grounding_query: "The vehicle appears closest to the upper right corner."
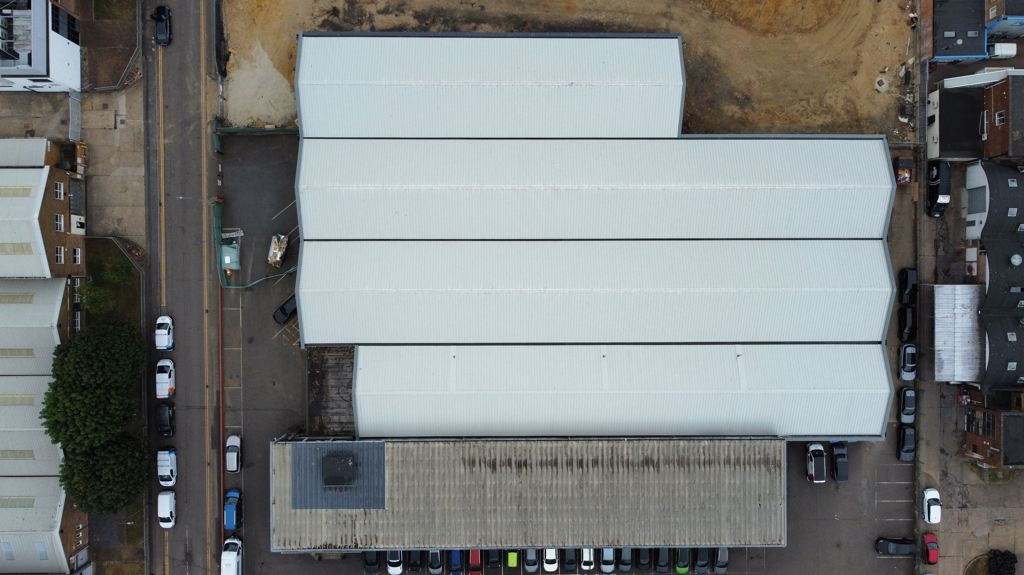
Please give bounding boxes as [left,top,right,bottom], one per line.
[980,40,1023,60]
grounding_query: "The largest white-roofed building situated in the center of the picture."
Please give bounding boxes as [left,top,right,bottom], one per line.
[295,31,896,440]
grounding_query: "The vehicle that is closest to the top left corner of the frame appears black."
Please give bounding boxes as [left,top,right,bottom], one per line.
[155,6,176,46]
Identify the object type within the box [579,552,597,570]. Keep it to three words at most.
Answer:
car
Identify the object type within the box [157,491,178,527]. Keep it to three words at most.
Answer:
vehicle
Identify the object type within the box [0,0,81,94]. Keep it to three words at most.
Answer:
building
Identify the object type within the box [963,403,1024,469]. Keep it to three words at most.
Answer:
building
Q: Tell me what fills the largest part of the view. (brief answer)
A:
buildings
